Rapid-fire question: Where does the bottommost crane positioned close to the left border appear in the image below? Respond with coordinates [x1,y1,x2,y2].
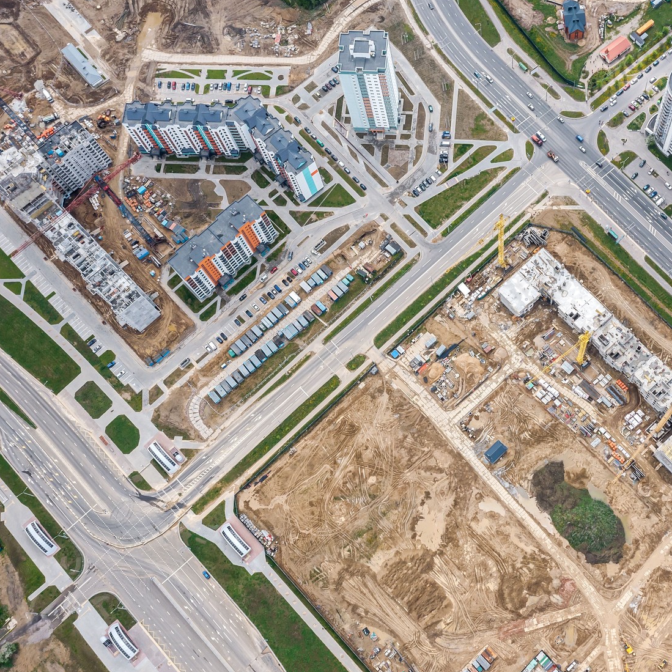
[13,151,166,256]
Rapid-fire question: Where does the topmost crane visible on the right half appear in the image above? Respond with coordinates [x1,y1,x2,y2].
[447,210,521,275]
